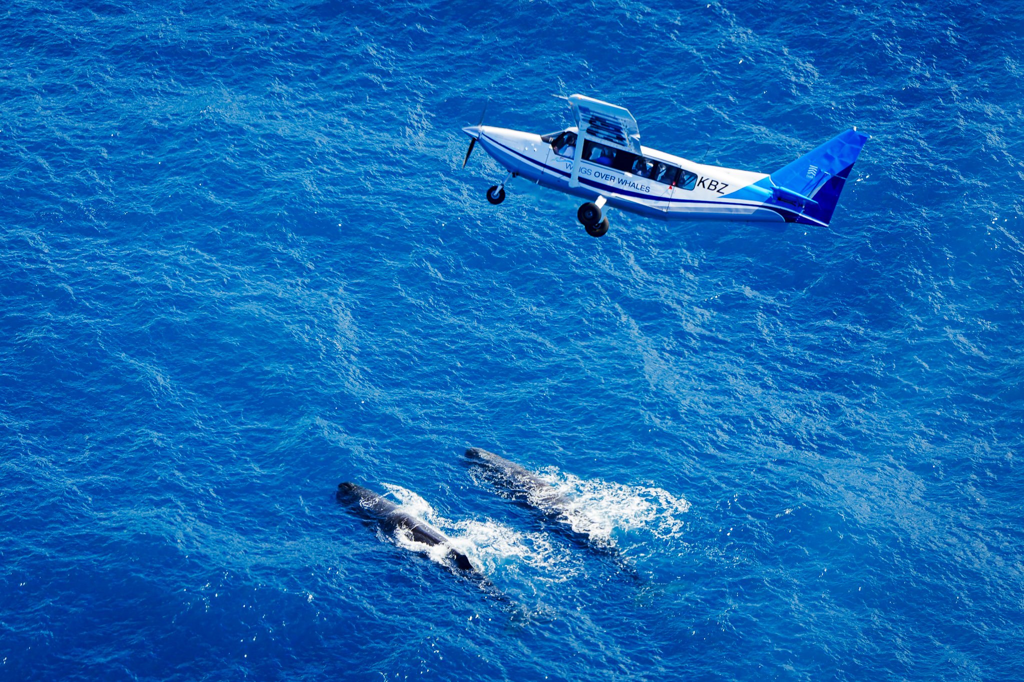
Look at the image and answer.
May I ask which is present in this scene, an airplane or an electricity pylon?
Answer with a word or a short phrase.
airplane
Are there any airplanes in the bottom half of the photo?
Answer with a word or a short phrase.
No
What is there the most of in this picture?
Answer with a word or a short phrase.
water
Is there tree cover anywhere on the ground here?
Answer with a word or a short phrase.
No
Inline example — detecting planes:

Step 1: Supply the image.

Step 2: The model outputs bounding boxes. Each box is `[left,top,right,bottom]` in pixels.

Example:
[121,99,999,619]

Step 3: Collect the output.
[464,94,869,239]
